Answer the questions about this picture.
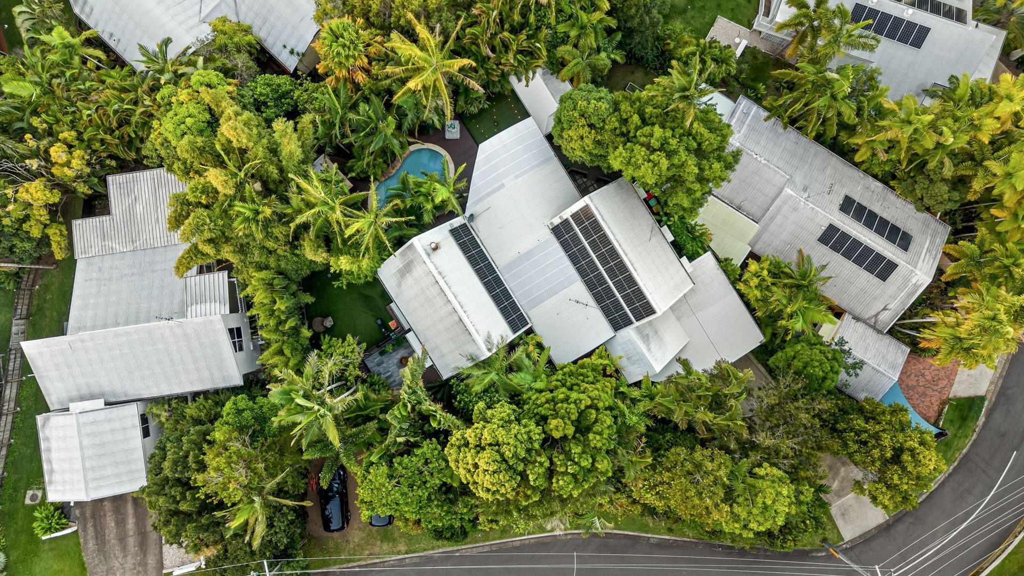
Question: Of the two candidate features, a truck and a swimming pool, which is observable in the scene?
swimming pool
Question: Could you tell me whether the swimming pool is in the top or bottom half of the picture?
top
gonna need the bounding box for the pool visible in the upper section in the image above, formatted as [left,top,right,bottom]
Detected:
[369,140,454,230]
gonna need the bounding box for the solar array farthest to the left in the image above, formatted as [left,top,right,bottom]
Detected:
[449,223,529,332]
